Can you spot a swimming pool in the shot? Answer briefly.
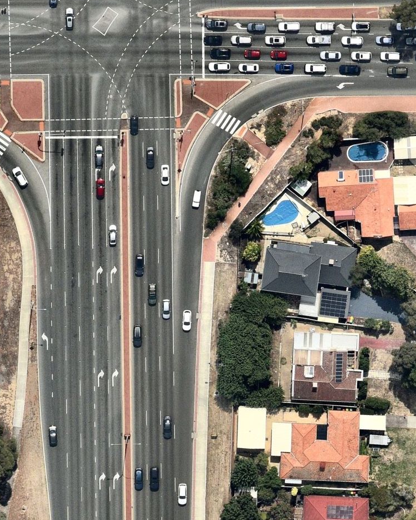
Yes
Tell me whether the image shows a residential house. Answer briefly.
Yes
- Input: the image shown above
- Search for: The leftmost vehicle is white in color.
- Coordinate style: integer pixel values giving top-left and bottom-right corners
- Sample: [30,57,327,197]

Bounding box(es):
[12,166,29,189]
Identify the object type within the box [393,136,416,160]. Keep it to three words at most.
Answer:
shed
